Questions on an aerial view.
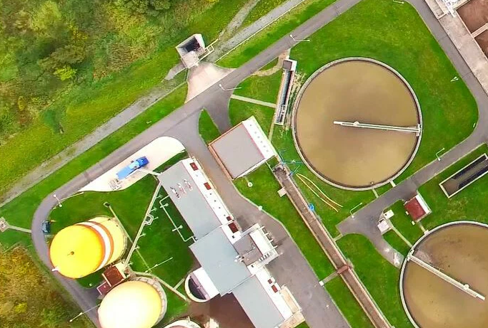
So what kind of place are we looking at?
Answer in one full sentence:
This looks like an industrial area.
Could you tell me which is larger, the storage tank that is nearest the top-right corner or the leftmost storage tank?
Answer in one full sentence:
The storage tank that is nearest the top-right corner is bigger than the leftmost storage tank.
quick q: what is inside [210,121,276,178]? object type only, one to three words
shed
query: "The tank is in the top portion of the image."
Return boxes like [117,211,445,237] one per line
[290,60,422,190]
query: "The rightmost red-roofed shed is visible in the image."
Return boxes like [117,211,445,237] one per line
[404,195,427,221]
